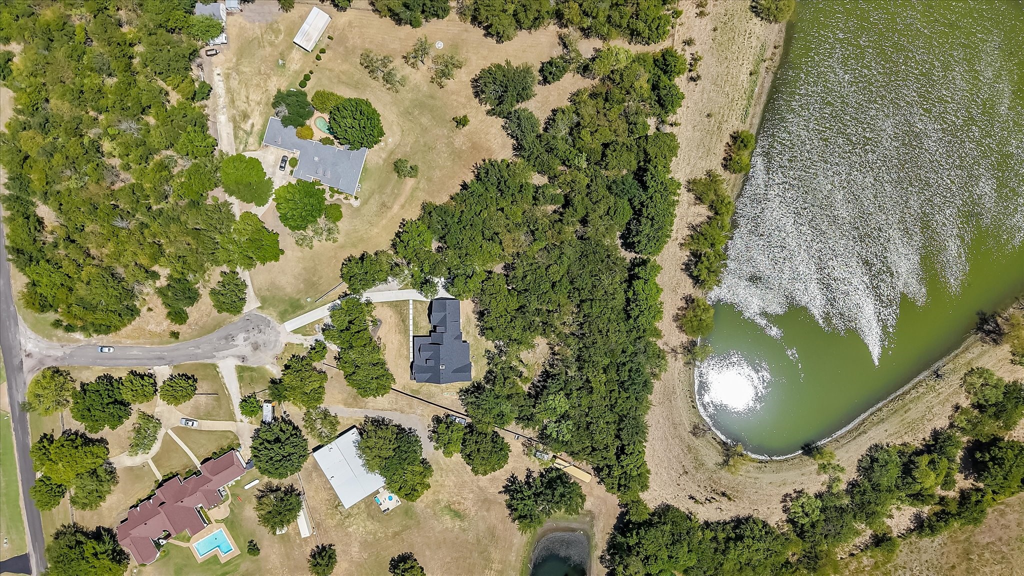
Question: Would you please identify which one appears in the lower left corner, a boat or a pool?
pool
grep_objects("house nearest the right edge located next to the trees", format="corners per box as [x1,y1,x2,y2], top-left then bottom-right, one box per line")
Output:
[411,300,471,384]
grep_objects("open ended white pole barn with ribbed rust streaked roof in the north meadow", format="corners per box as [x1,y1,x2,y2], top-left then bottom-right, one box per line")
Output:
[292,6,333,55]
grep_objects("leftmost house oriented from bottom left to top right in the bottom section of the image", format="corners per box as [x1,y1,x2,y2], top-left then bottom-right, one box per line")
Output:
[118,449,247,567]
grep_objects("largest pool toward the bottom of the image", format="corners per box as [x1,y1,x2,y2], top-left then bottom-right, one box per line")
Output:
[192,528,235,560]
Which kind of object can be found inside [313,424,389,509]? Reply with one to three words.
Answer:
building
